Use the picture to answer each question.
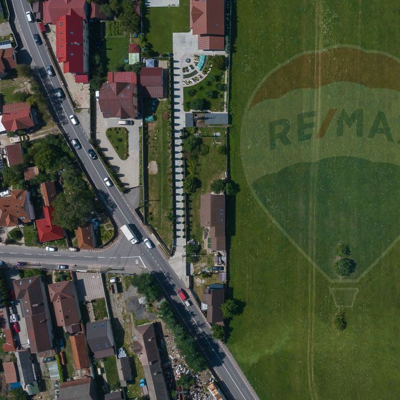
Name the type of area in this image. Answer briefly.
residential area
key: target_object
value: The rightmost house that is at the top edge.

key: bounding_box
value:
[190,0,226,50]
